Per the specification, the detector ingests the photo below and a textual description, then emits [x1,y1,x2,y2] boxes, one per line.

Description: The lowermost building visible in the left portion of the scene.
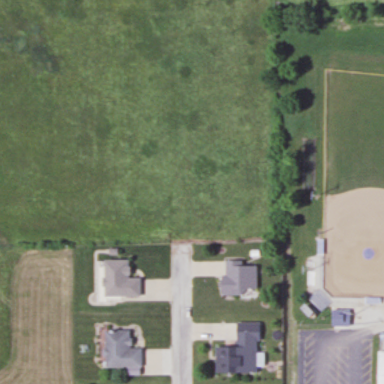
[106,330,144,376]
